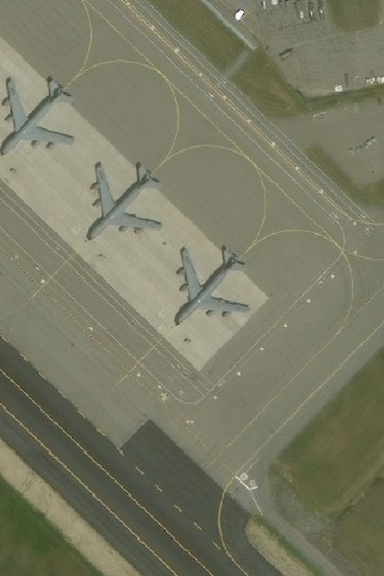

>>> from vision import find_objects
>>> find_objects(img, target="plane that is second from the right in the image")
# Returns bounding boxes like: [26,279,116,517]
[88,164,163,239]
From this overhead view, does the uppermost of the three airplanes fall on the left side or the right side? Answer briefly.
left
